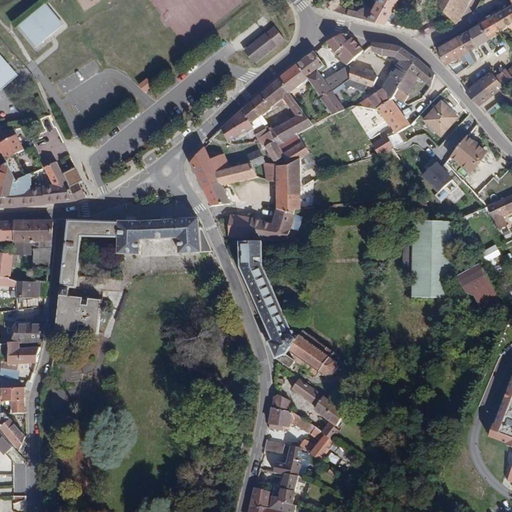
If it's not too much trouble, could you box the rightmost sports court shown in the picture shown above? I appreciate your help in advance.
[151,0,244,37]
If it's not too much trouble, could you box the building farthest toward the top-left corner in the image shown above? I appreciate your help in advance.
[12,0,63,47]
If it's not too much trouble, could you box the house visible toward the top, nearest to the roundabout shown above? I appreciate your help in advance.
[188,146,232,205]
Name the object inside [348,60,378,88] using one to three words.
house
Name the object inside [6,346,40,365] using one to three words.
house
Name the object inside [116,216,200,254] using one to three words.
building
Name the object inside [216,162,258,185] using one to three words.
barn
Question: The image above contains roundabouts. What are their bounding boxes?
[142,150,186,194]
